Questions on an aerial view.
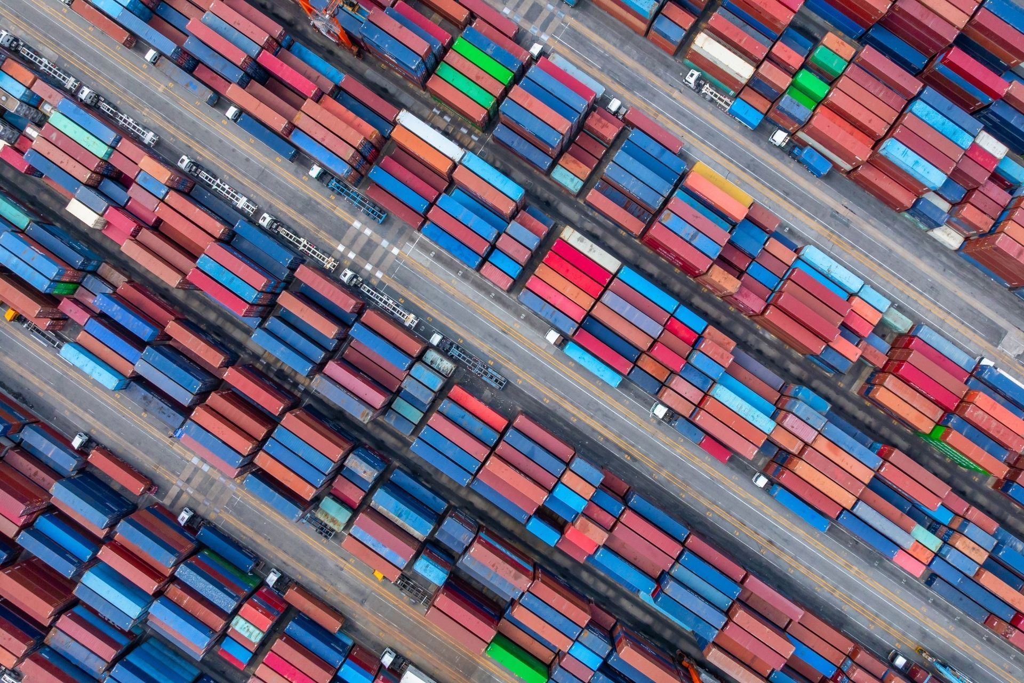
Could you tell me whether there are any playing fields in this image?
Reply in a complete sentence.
No, the picture doesn't show any playing field.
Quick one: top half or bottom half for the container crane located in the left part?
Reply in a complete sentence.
The top half of the photo is where the container crane located in the left part is.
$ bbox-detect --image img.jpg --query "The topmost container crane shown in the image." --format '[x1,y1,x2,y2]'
[294,0,373,58]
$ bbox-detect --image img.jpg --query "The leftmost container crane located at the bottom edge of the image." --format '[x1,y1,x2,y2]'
[671,646,727,683]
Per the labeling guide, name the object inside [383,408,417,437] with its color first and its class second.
blue shipping container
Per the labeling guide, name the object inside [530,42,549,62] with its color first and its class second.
white vehicle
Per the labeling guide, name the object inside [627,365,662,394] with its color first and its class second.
blue shipping container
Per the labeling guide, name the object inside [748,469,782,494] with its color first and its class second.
white truck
